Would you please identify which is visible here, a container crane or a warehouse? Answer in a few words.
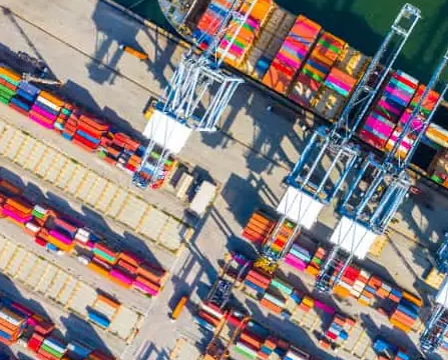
container crane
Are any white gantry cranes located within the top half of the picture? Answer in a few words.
Yes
